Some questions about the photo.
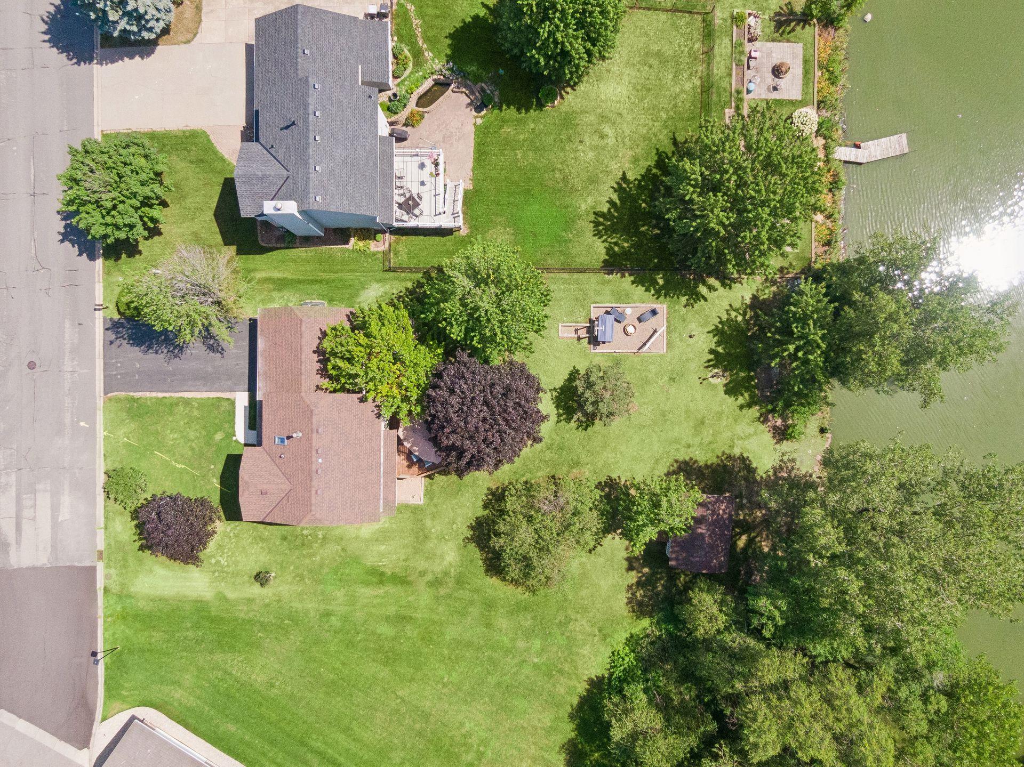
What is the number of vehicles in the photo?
0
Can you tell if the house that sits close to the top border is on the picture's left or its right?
left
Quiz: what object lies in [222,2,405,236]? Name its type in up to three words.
house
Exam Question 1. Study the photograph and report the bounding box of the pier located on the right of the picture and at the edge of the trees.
[834,128,918,163]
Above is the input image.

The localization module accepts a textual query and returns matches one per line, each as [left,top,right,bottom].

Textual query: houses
[101,719,225,767]
[238,306,403,526]
[222,2,405,236]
